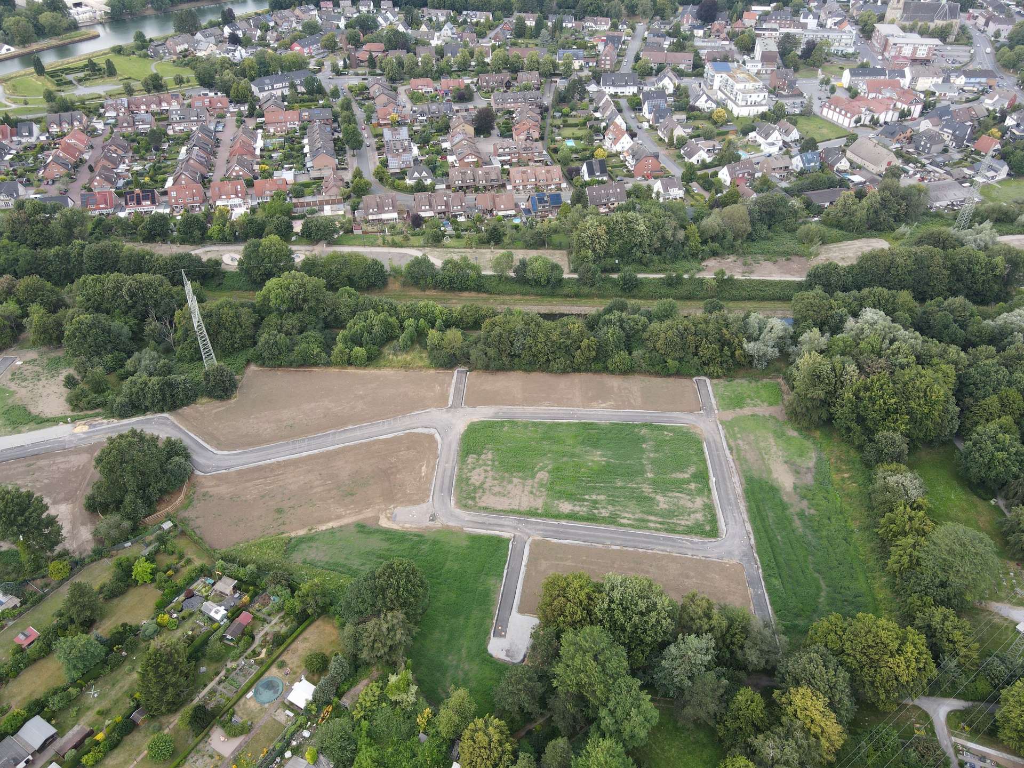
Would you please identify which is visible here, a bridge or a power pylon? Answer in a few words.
power pylon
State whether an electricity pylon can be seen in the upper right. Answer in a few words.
Yes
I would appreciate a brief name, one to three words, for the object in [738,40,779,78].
building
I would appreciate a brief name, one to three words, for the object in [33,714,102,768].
shed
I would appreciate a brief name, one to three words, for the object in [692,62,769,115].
building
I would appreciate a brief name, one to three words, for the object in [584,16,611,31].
house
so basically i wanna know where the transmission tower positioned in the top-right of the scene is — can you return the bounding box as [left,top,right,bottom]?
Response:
[953,142,1005,224]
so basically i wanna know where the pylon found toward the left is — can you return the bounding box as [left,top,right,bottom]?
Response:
[182,272,221,372]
